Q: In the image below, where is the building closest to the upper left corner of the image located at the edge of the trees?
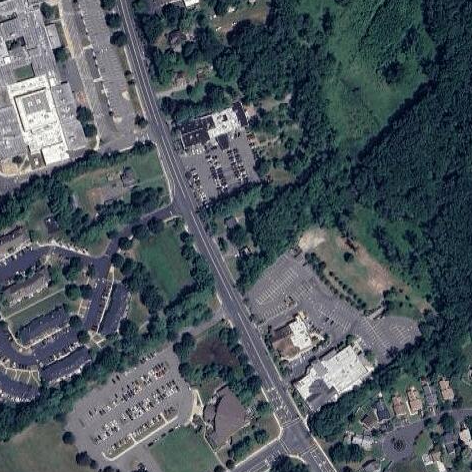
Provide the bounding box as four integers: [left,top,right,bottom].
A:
[0,0,88,164]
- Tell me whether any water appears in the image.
No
